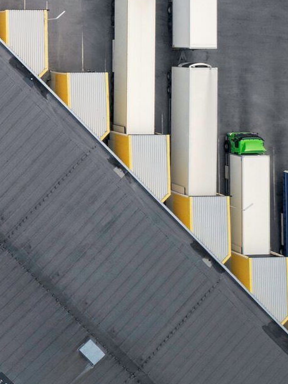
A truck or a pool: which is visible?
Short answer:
truck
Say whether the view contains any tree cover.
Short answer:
No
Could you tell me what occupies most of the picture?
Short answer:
buildings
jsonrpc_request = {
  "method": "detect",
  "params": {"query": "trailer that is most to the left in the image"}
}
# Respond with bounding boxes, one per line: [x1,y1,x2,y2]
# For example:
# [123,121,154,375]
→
[108,0,156,133]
